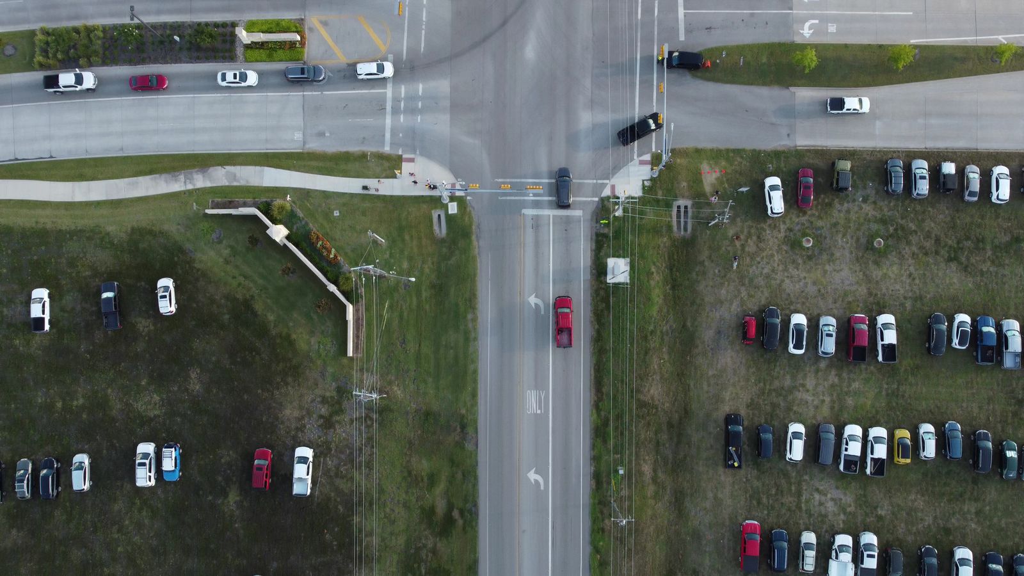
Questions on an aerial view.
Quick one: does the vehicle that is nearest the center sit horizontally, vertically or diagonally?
vertically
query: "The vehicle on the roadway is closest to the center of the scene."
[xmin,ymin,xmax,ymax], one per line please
[554,296,574,349]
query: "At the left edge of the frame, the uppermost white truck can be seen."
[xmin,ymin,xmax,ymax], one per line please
[40,69,100,94]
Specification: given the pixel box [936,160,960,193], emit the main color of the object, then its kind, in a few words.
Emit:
black vehicle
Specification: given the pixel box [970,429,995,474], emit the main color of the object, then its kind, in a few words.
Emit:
black car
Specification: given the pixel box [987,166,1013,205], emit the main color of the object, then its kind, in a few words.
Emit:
white car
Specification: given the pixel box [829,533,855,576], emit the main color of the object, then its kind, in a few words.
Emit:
white truck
